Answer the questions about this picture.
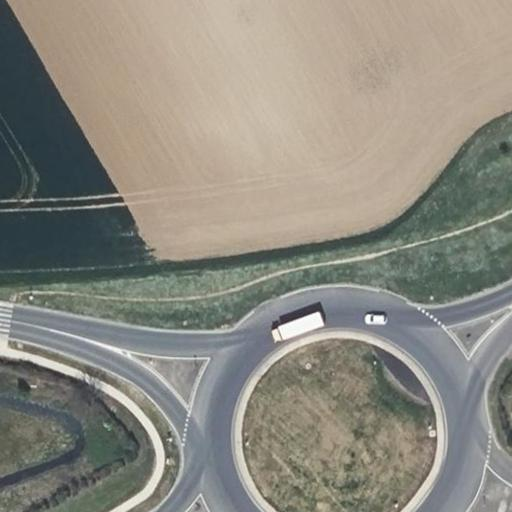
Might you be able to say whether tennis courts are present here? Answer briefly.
No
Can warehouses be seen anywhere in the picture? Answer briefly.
No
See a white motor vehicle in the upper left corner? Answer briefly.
No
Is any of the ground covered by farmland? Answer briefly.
Yes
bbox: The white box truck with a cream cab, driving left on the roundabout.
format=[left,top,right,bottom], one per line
[271,312,324,342]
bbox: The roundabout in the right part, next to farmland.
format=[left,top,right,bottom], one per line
[188,286,490,512]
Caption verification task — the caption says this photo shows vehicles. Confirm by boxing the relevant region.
[271,312,324,342]
[365,314,388,325]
